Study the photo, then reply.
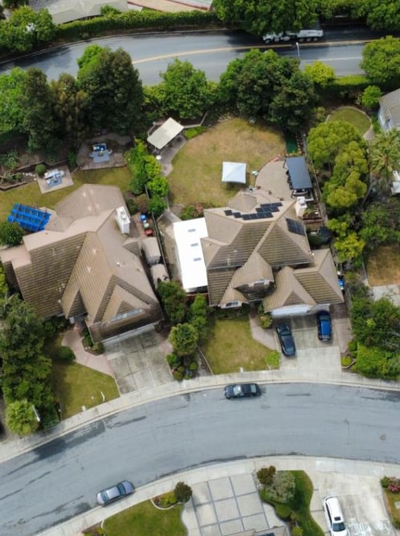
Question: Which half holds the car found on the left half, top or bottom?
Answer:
bottom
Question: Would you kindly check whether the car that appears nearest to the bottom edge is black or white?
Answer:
white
